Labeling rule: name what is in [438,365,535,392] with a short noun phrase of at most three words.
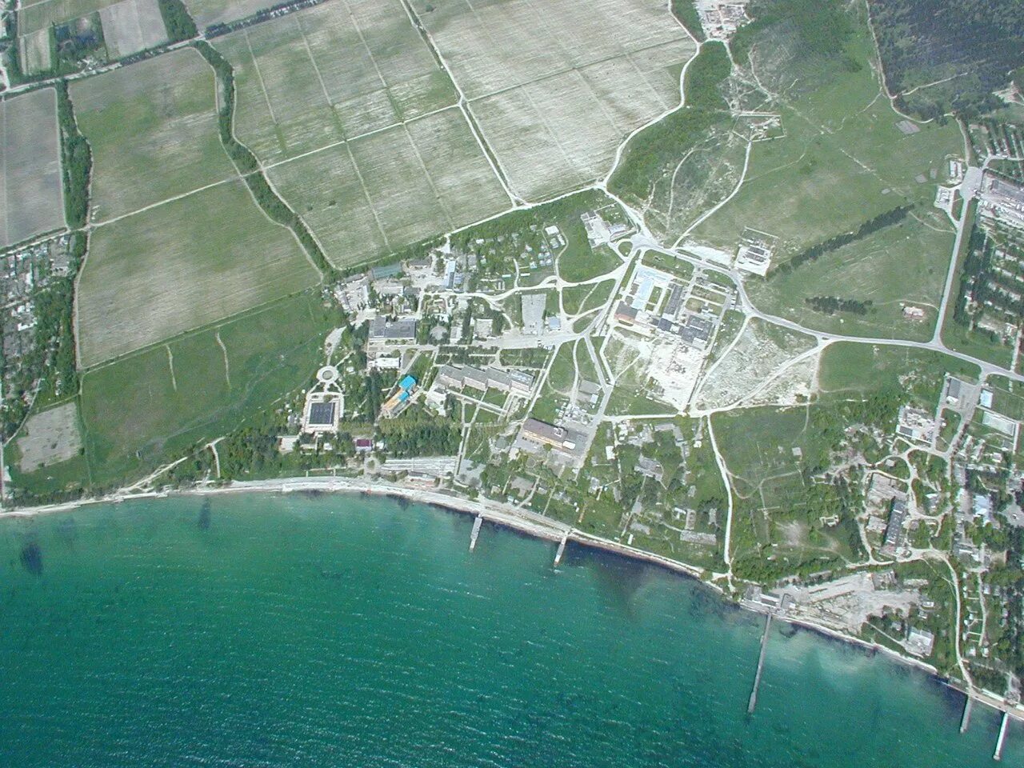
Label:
building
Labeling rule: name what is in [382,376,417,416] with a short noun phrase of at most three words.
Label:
house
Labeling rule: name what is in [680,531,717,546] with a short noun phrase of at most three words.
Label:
barn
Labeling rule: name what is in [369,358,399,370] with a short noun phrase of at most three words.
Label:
building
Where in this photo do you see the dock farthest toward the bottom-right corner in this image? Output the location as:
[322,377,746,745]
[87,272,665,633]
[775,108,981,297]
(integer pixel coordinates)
[992,712,1009,761]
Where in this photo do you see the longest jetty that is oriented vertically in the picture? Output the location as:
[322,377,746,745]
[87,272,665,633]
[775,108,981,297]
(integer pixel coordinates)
[747,612,772,713]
